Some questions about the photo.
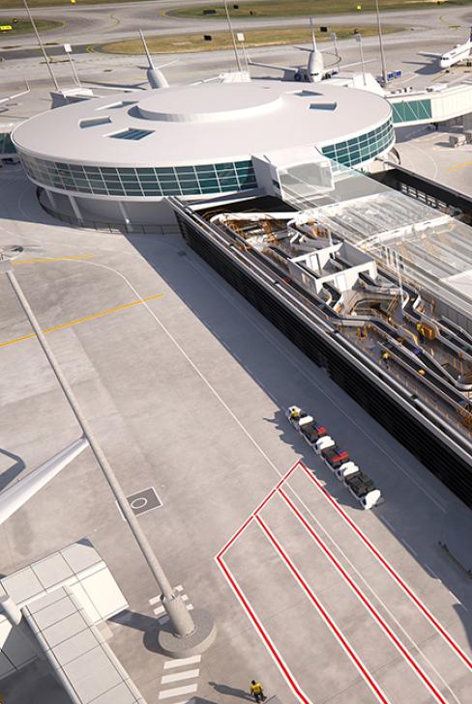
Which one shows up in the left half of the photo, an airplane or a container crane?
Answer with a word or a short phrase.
airplane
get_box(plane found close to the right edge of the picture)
[422,24,472,70]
